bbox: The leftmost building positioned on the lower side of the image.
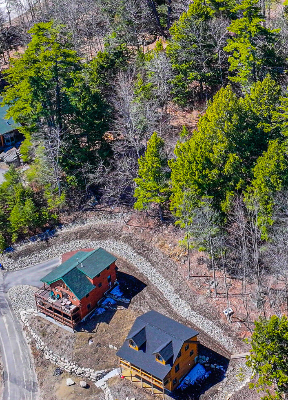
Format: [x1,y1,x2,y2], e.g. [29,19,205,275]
[35,247,120,334]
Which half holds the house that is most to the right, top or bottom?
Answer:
bottom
